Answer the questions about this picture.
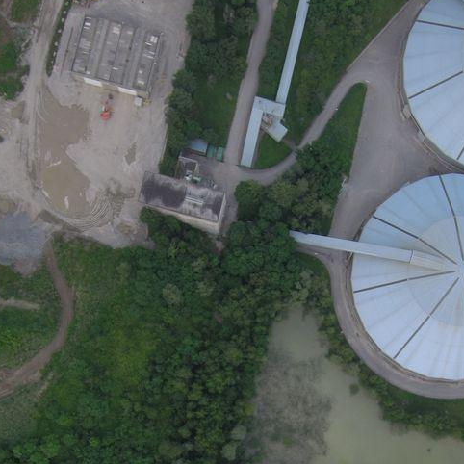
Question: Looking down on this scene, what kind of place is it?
industrial area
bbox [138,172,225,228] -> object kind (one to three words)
building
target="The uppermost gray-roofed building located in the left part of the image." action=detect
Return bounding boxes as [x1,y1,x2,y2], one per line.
[72,17,163,97]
